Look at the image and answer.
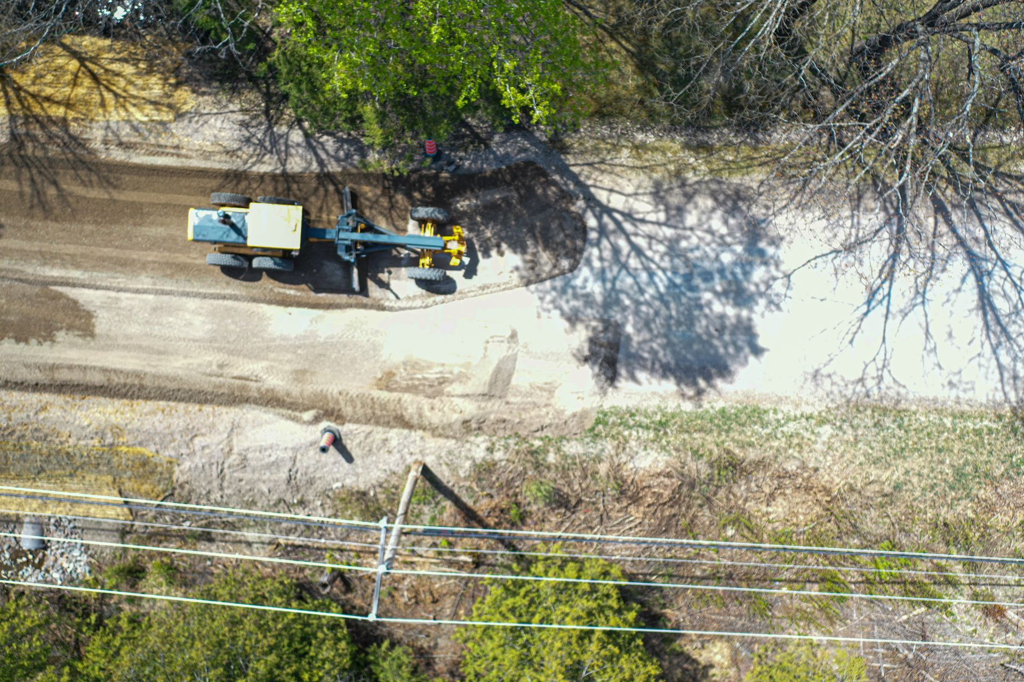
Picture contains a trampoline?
No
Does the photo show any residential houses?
No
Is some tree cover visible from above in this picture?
Yes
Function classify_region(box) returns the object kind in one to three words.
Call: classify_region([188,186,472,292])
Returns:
work vehicle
